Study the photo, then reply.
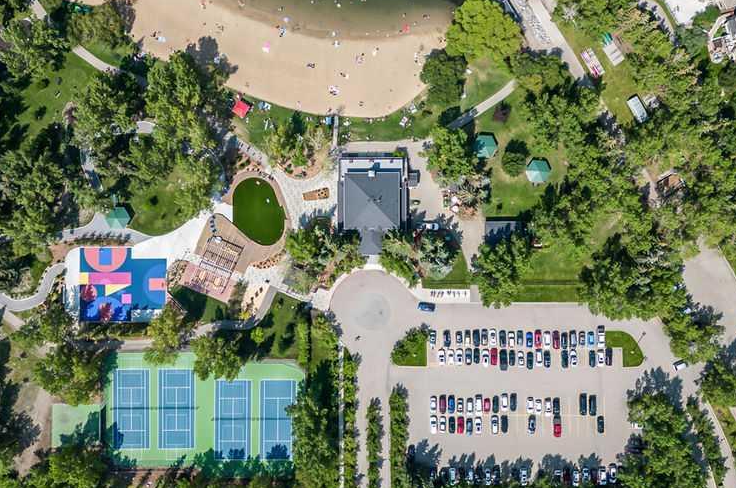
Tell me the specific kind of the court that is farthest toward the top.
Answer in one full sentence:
It looks like the court that is farthest toward the top is a basketball court.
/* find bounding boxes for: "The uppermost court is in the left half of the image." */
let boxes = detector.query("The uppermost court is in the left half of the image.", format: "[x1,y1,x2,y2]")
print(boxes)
[66,247,168,323]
